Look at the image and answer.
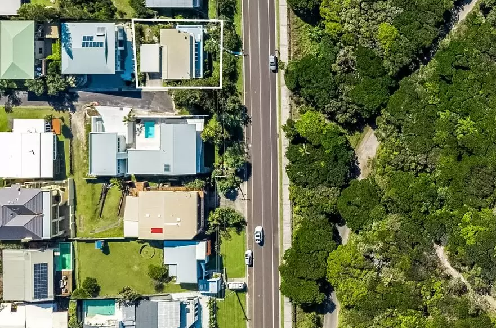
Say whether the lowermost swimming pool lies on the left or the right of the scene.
left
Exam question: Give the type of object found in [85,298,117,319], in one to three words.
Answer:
swimming pool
